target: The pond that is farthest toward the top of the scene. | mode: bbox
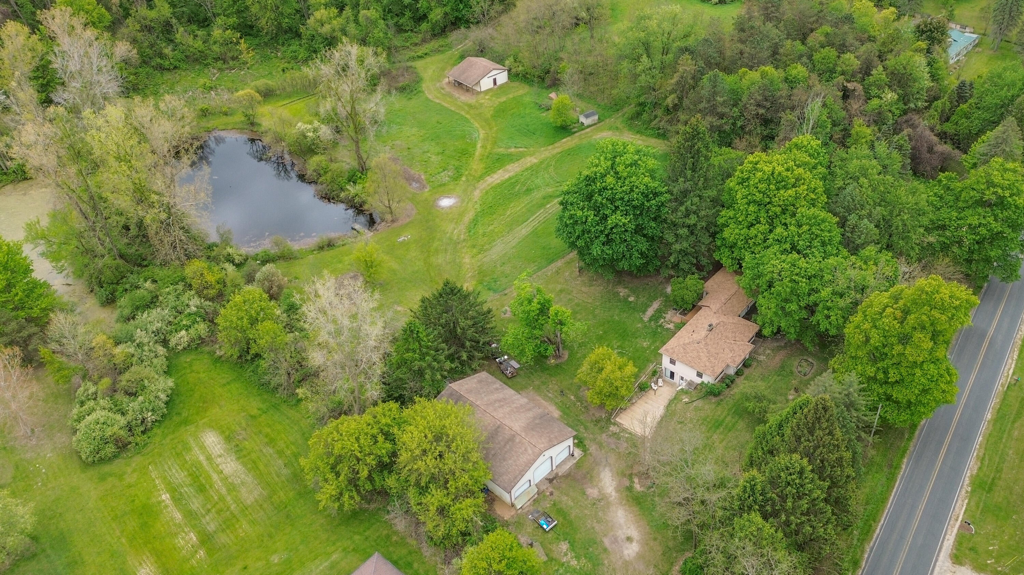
[178,133,375,253]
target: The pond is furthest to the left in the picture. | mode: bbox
[0,179,115,336]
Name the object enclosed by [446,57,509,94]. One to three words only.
barn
